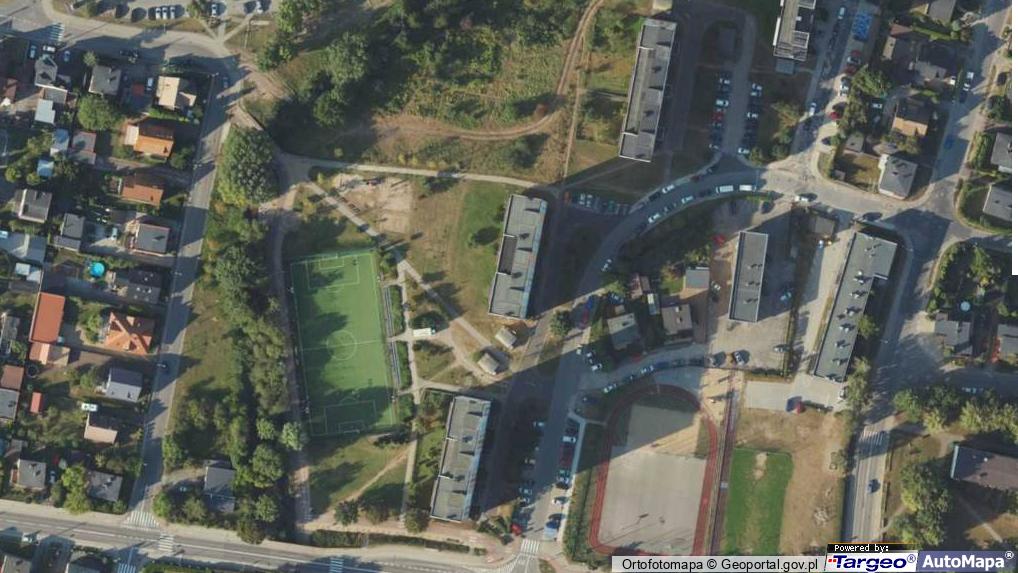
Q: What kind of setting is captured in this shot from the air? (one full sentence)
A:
It's a residential area.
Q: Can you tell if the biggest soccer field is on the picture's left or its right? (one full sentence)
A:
The biggest soccer field sits on the left side.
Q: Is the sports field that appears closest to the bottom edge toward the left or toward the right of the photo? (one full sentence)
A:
The sports field that appears closest to the bottom edge appears in the right half of the scene.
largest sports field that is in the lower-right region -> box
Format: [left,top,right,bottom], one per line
[723,449,793,562]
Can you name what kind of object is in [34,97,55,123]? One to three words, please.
shed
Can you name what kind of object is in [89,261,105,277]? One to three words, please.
swimming pool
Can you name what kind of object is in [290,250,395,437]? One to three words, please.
soccer field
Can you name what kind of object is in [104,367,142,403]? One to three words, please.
house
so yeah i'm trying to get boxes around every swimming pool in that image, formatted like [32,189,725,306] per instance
[89,261,105,277]
[960,300,970,310]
